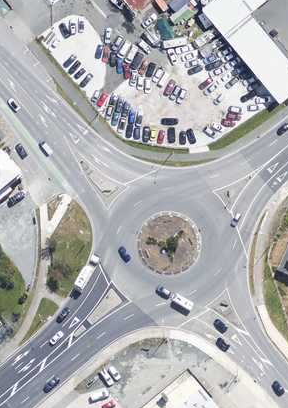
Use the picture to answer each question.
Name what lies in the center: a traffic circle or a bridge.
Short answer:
traffic circle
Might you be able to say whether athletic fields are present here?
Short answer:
No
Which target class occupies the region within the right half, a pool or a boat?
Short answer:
boat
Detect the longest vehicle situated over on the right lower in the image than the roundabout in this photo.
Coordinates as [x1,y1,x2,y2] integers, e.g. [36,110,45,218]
[170,295,196,316]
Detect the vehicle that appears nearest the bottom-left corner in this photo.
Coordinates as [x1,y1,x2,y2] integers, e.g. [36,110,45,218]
[44,378,60,392]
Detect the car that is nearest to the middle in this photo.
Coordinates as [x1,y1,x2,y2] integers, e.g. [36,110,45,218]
[118,247,132,264]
